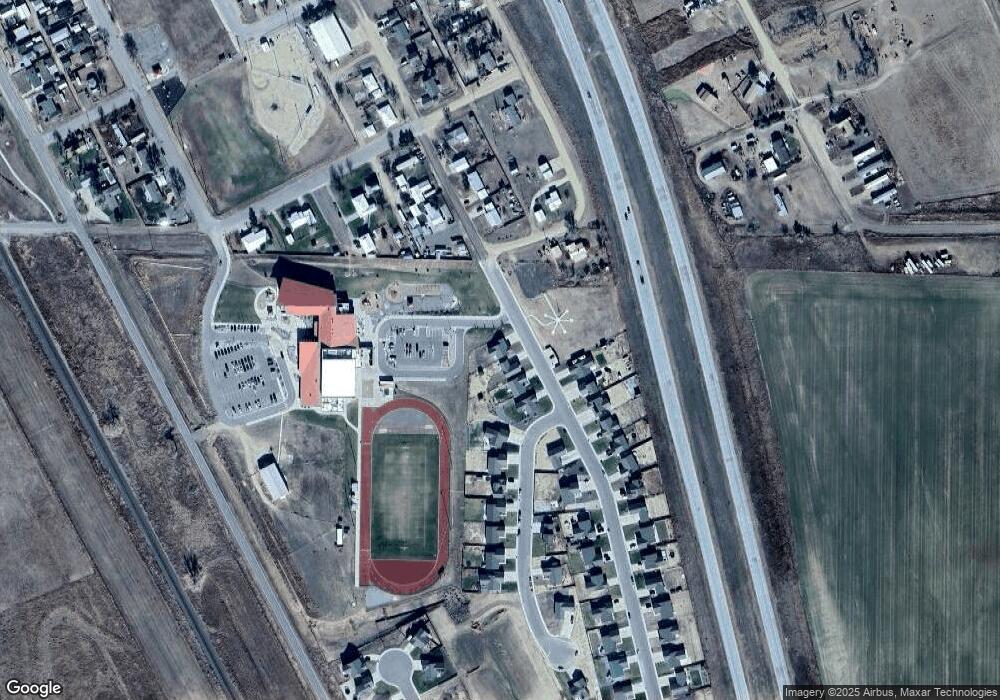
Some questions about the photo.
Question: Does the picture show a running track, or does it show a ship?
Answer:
running track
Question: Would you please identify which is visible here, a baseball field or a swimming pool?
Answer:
baseball field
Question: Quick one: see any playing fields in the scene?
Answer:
Yes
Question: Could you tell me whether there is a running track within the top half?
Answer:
No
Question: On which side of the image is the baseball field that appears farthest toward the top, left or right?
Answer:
left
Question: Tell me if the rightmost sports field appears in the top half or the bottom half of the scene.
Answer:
bottom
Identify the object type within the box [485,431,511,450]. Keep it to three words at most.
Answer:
house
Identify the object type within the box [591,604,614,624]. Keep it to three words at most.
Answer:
house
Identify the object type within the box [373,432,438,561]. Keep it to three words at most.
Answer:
sports field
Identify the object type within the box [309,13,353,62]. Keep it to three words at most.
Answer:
building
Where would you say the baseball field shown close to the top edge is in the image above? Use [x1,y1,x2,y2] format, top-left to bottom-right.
[247,25,325,154]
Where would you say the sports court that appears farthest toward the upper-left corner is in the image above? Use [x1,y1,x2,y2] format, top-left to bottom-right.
[152,76,186,115]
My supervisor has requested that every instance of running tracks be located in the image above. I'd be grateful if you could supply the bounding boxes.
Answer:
[361,397,449,596]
